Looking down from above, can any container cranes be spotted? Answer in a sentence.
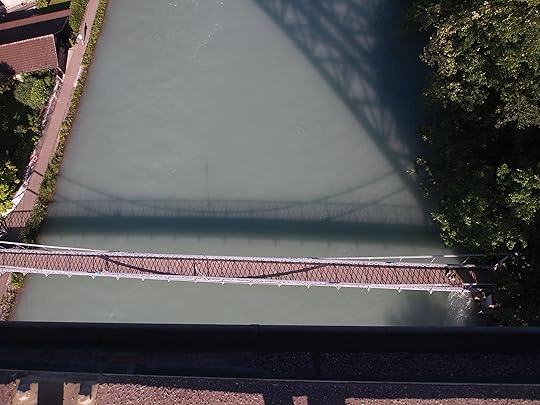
No, I can't see a single container crane in this photo.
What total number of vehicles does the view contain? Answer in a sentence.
I count no vehicles.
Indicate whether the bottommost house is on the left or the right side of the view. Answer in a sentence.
It is on the left.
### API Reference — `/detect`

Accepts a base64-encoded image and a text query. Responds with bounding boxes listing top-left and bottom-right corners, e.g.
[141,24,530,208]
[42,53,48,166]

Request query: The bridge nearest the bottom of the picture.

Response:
[0,322,540,405]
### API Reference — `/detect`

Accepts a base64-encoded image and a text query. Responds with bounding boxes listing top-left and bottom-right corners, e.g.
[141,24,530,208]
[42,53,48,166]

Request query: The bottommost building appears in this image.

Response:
[0,27,68,88]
